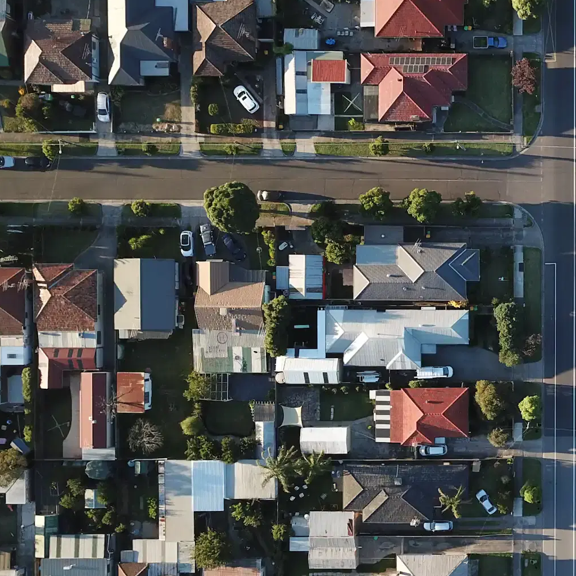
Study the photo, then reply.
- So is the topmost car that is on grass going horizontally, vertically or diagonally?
diagonally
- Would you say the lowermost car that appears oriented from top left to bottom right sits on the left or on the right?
right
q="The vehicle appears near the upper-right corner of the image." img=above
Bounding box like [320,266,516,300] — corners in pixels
[473,34,507,50]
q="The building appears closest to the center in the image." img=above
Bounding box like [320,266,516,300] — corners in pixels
[276,254,329,300]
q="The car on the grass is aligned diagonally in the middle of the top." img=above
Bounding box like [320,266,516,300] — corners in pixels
[234,85,261,115]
